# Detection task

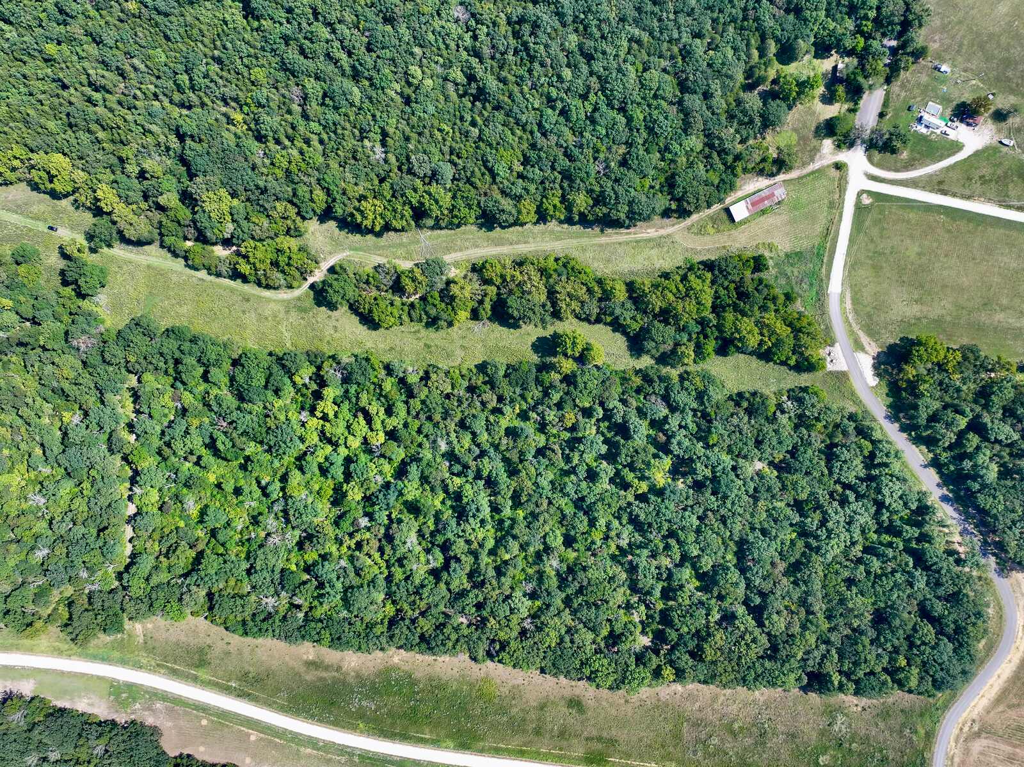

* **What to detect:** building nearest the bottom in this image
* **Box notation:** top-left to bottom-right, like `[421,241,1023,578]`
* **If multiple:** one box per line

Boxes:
[728,183,786,223]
